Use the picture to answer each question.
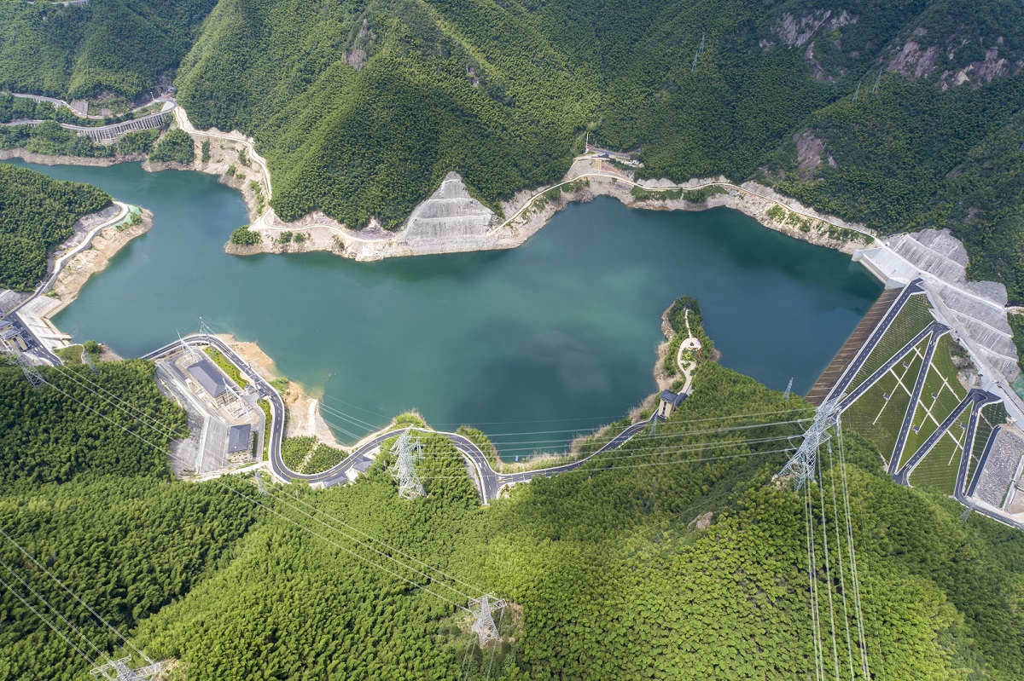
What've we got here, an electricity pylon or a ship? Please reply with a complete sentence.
The image shows an electricity pylon.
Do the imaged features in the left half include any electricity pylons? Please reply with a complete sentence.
Yes, an electricity pylon can be seen in the left half.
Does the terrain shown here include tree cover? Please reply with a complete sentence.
Yes, tree cover shows up in the scene.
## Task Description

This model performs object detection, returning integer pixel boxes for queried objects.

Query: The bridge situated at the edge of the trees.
[0,105,176,140]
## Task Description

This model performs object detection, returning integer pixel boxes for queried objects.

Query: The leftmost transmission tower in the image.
[6,347,43,382]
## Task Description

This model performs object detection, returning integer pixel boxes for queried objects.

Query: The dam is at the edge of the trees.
[810,278,1024,527]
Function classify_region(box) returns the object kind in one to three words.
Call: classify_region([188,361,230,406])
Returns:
building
